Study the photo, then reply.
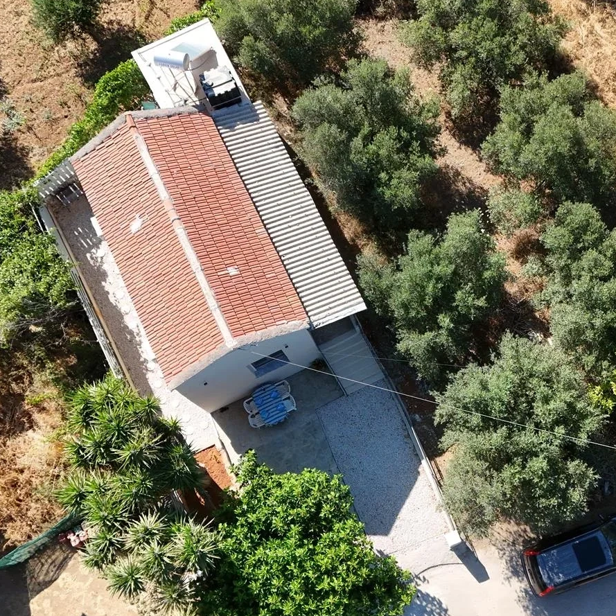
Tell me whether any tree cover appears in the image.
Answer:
Yes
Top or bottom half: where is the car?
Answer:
bottom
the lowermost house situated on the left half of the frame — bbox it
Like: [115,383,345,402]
[80,100,383,412]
